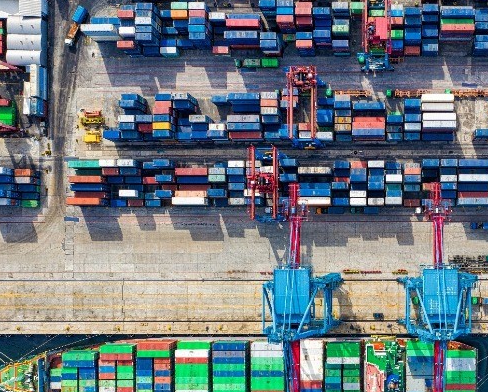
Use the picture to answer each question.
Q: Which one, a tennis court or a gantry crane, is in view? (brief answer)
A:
gantry crane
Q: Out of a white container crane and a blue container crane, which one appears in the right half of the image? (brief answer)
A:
blue container crane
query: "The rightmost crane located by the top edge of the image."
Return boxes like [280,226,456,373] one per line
[361,0,397,64]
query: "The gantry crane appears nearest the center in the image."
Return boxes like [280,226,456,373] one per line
[247,143,292,221]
